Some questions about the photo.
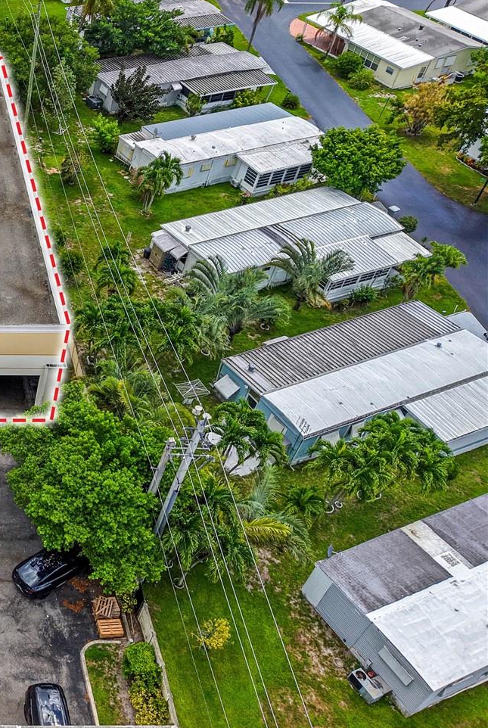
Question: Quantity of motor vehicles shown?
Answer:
2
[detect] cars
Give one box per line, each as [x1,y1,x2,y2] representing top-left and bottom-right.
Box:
[11,532,87,597]
[21,682,70,726]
